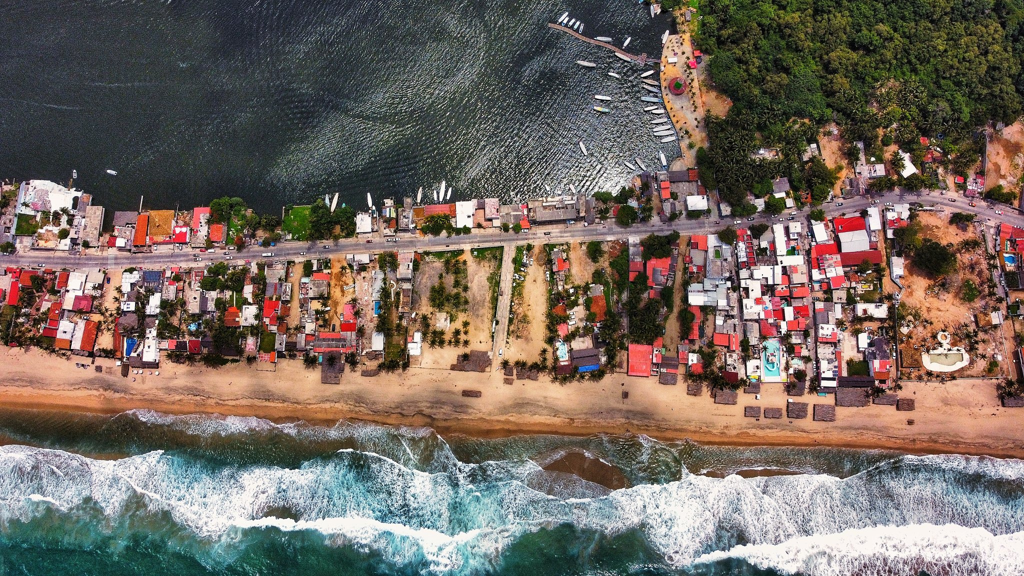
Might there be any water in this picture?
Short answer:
Yes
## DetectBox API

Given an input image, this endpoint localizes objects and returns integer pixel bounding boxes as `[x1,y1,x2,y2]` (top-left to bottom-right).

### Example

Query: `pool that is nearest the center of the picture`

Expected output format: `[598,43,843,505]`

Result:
[556,343,568,358]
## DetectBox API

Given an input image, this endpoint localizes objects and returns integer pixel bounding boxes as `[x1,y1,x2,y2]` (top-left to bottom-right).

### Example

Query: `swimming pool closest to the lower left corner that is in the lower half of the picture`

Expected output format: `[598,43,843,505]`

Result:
[125,336,139,357]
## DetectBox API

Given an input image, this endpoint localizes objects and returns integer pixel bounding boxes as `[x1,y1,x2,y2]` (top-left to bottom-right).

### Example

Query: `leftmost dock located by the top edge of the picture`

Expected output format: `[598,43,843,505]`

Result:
[548,23,638,59]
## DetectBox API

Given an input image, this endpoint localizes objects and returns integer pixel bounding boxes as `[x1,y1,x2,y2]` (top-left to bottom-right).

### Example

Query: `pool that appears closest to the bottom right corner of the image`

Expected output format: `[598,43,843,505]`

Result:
[928,353,964,366]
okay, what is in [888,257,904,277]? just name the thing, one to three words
house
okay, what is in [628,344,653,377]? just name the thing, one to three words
house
